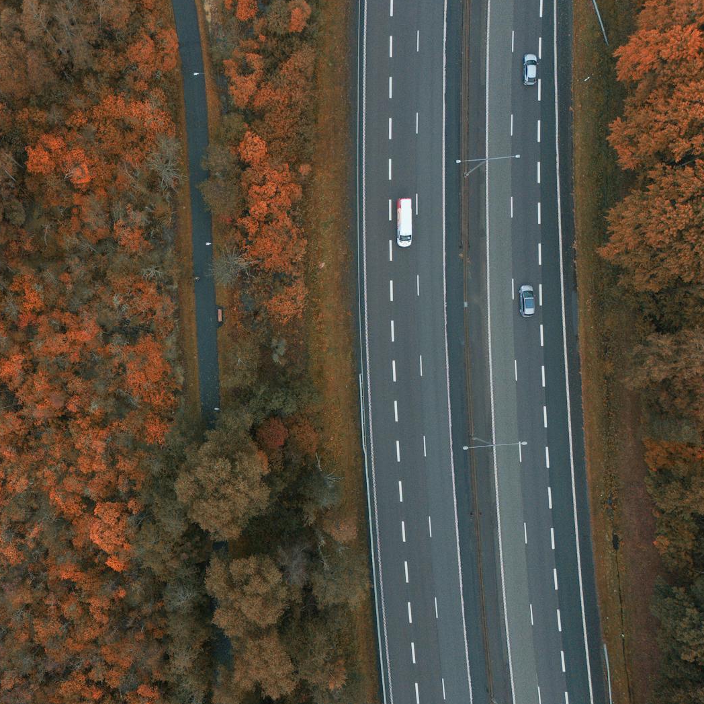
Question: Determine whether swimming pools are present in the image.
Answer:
No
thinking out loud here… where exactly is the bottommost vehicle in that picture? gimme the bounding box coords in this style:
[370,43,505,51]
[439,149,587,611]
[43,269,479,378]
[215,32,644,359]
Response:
[520,285,536,317]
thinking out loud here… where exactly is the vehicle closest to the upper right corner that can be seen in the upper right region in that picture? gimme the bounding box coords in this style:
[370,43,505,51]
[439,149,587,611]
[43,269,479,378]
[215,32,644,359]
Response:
[523,53,539,85]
